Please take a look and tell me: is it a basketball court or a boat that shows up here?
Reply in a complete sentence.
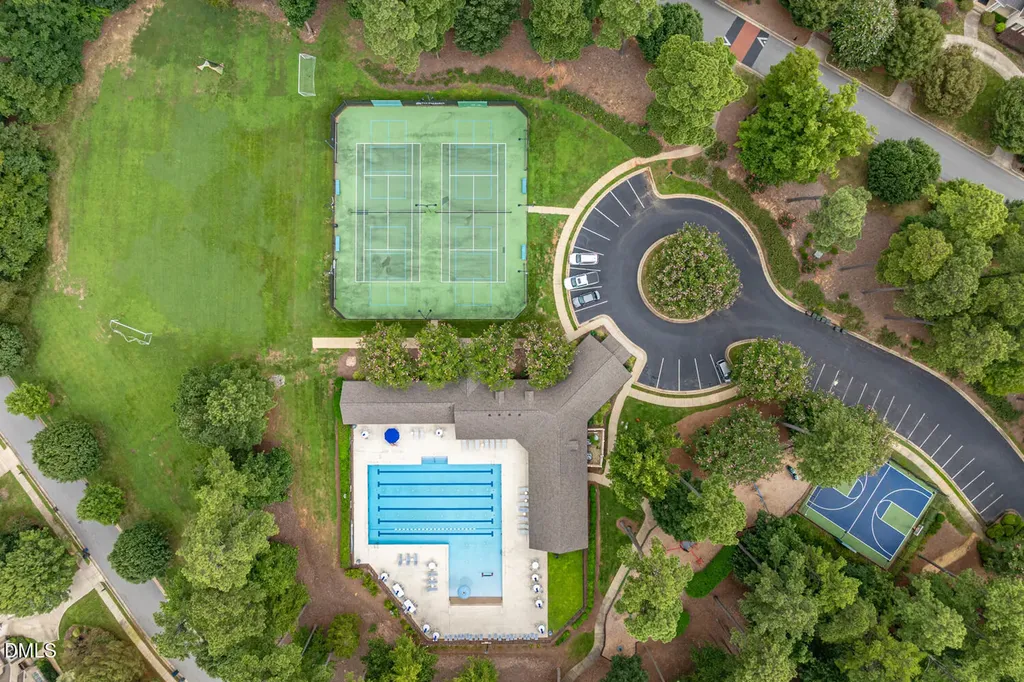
It is a basketball court that can be seen here.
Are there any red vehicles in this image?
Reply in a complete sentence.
No, no red vehicle is visible in the view.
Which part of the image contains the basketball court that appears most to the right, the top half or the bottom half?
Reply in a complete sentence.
It is in the bottom half that the basketball court that appears most to the right appears.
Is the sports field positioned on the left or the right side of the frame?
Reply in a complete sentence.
It is on the left.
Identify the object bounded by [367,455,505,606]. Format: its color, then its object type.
blue swimming pool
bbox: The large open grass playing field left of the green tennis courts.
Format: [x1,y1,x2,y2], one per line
[22,0,337,579]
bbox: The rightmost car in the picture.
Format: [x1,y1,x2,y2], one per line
[716,357,732,383]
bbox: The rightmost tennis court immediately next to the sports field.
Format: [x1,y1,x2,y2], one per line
[431,106,527,319]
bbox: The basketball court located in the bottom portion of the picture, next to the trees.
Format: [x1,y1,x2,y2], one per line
[795,443,939,567]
